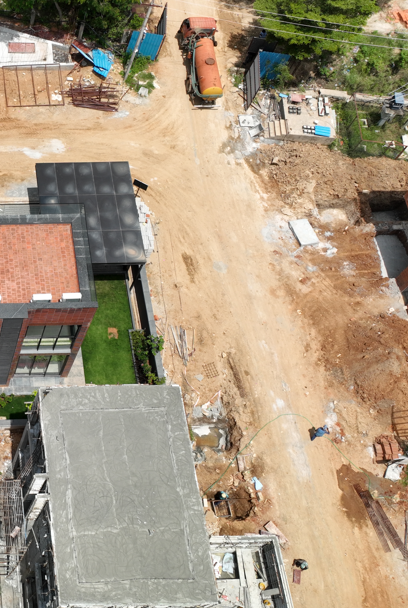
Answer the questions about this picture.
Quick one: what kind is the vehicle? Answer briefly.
truck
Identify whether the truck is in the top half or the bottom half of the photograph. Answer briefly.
top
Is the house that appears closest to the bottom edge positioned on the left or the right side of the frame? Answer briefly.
left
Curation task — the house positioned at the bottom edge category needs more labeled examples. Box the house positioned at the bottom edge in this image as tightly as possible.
[25,385,218,608]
